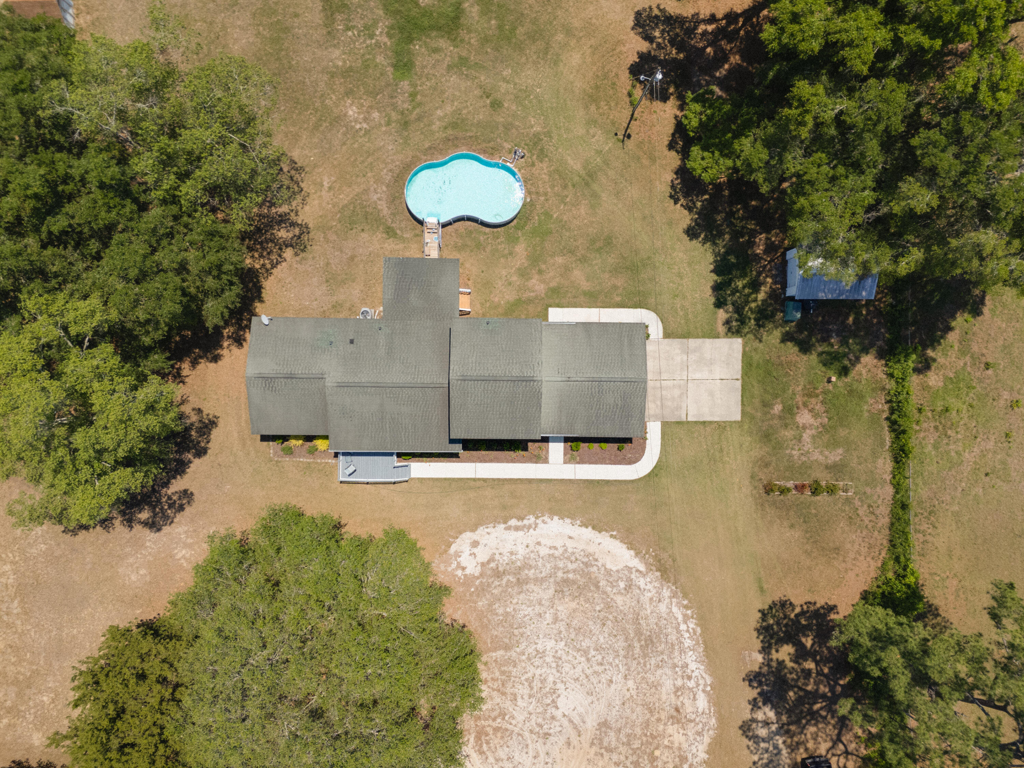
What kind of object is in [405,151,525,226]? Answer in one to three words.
swimming pool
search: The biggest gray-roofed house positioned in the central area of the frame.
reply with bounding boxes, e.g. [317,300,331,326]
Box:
[246,257,647,453]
